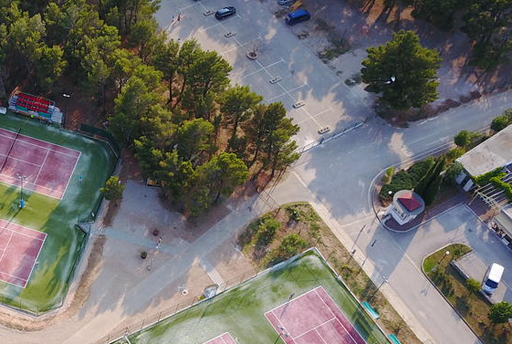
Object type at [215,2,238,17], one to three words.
car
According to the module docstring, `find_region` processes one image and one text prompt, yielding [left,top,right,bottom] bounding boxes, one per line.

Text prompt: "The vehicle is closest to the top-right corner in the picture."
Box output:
[285,6,312,22]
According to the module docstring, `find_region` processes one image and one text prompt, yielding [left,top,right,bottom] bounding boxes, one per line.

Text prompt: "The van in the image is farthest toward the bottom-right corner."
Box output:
[482,257,511,295]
